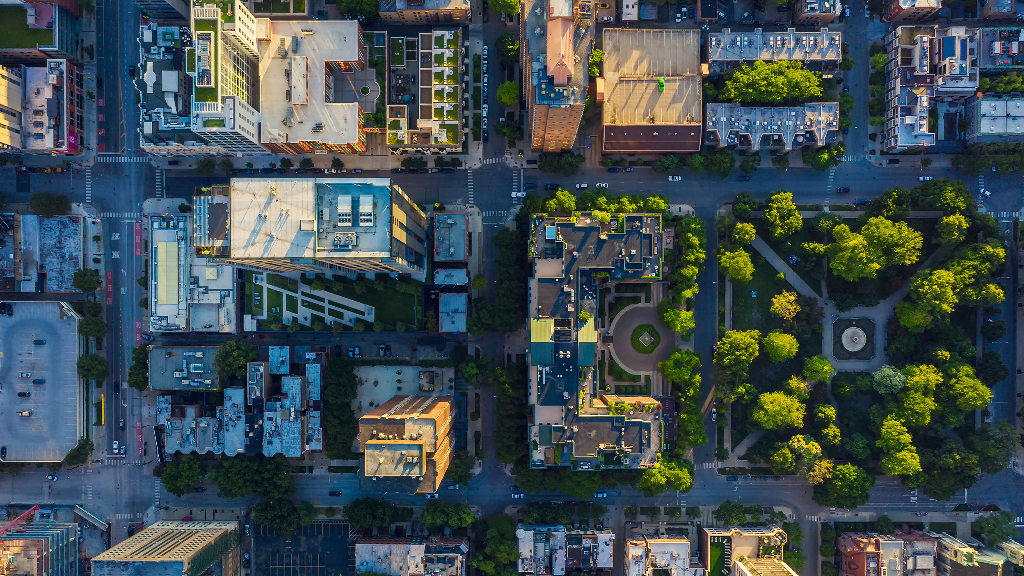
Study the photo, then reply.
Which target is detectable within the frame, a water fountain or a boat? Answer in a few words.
water fountain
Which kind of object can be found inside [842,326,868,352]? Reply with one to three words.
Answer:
fountain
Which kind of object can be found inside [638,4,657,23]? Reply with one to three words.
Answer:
building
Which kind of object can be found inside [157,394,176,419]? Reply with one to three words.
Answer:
house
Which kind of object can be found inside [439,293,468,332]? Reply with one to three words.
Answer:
building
